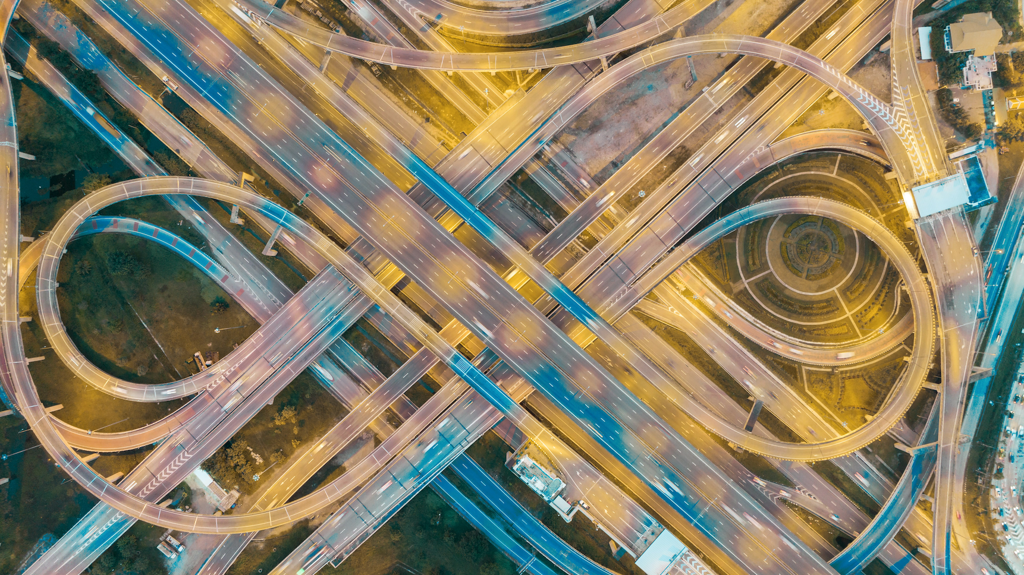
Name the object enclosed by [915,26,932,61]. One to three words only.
shed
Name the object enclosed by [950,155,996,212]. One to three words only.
building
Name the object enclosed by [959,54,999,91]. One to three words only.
building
